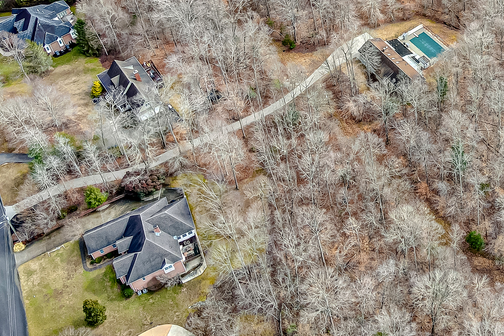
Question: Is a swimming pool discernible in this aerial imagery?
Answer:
Yes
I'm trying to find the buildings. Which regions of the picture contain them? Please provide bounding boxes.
[96,56,174,132]
[353,41,424,103]
[0,0,93,67]
[84,186,195,290]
